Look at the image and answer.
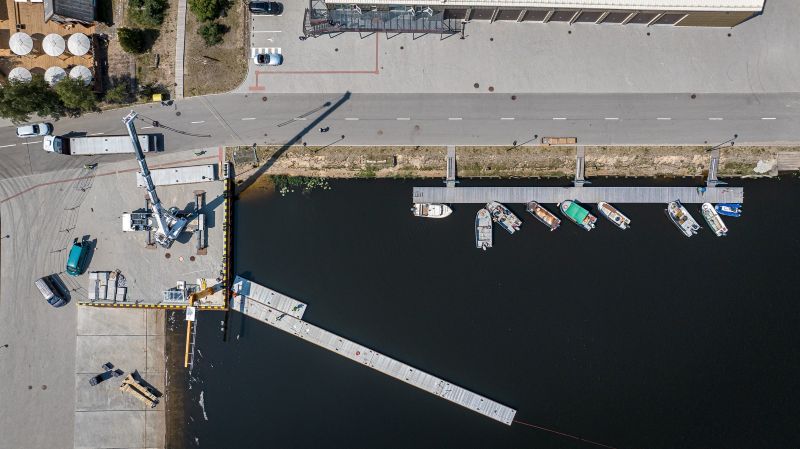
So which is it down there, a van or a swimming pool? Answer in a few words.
van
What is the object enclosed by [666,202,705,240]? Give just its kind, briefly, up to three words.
boat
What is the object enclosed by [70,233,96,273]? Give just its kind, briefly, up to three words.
vehicle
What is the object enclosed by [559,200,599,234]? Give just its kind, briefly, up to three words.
boat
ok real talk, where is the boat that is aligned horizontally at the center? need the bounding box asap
[411,205,453,219]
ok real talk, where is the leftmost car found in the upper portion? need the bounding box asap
[16,121,52,137]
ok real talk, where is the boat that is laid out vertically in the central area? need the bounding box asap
[475,208,493,251]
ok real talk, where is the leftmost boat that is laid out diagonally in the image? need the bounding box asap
[490,202,523,235]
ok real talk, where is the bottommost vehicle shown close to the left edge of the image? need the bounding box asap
[38,274,70,306]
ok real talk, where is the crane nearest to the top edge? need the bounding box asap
[123,105,214,254]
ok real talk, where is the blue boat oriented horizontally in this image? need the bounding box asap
[716,204,746,217]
